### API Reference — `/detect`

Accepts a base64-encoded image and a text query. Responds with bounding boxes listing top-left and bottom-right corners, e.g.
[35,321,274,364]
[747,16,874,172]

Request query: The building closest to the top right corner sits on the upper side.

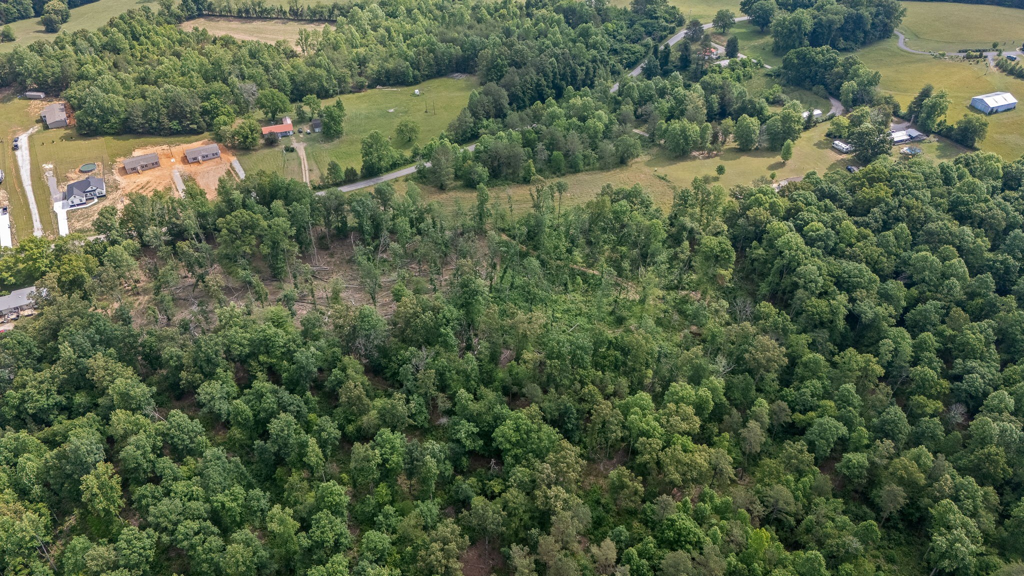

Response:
[968,93,1020,114]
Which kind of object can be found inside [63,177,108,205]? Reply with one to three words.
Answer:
house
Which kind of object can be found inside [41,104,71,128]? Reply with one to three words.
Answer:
house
